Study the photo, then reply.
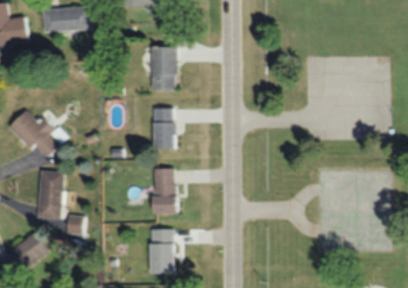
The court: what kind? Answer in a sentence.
The court can be classified as a tennis court.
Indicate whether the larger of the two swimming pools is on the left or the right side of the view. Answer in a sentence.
The larger of the two swimming pools is on the left side of the image.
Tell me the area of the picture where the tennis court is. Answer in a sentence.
The tennis court sits in the bottom right section of the image.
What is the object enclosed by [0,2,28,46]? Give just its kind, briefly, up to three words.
house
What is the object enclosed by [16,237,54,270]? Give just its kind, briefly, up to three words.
house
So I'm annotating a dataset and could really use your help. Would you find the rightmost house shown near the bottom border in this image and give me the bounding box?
[149,229,176,274]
